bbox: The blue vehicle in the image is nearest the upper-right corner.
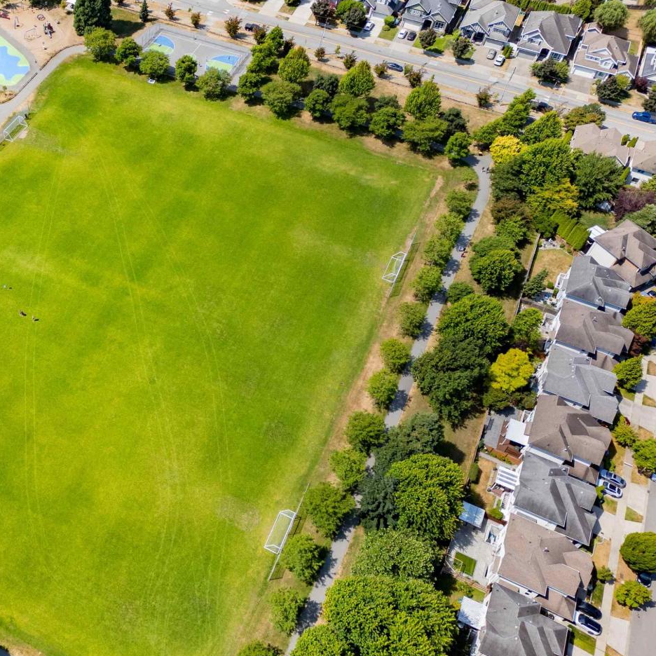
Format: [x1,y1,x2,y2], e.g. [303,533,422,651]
[633,112,656,124]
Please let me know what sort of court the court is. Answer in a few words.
basketball court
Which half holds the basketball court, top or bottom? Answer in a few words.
top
